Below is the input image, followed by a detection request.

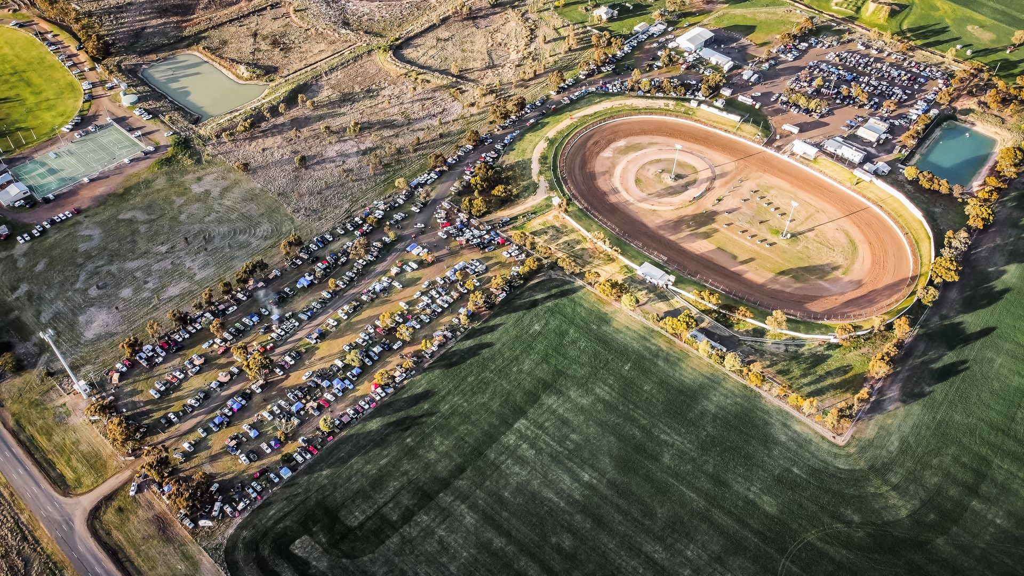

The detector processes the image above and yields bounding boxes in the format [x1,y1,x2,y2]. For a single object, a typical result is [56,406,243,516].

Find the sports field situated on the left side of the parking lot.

[0,26,84,150]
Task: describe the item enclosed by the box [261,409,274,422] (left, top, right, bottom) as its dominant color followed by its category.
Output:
white vehicle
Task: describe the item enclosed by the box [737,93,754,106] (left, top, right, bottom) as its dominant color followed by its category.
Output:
white vehicle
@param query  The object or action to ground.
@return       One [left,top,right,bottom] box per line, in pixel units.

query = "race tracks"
[566,115,913,314]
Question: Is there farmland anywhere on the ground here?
Yes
